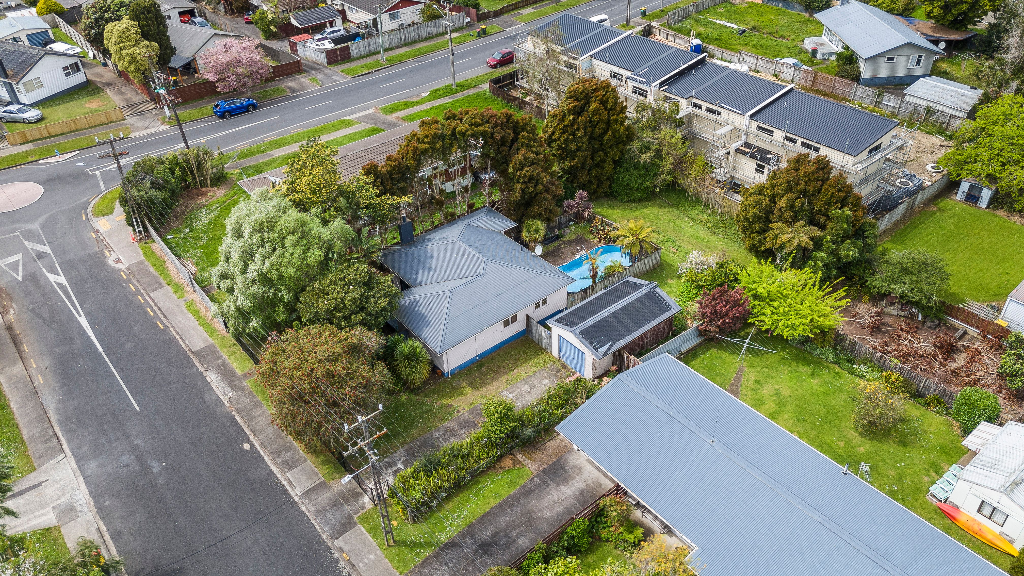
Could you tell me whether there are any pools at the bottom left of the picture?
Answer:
No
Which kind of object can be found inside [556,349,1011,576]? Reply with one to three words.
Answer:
house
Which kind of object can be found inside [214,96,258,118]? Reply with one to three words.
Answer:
car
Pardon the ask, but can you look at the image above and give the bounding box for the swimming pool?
[557,242,636,303]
